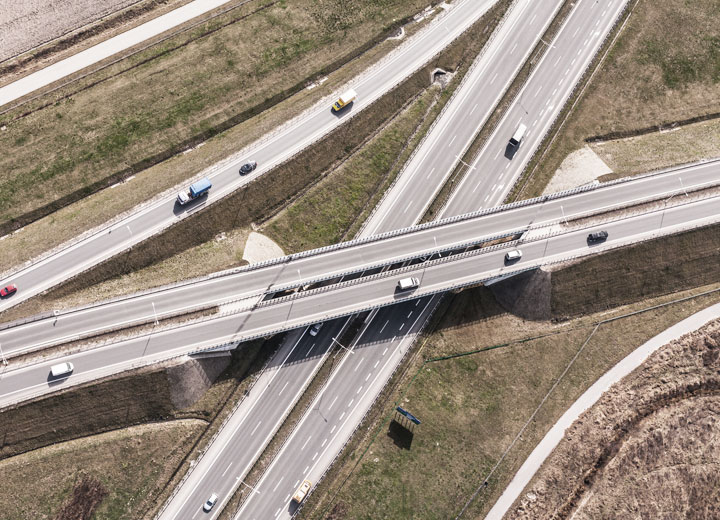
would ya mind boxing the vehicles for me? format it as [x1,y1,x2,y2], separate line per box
[292,480,311,504]
[589,232,606,242]
[0,284,18,298]
[330,90,357,115]
[397,278,419,291]
[310,323,323,337]
[202,493,219,511]
[48,363,75,377]
[505,251,522,261]
[177,179,210,206]
[509,121,529,145]
[240,162,257,175]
